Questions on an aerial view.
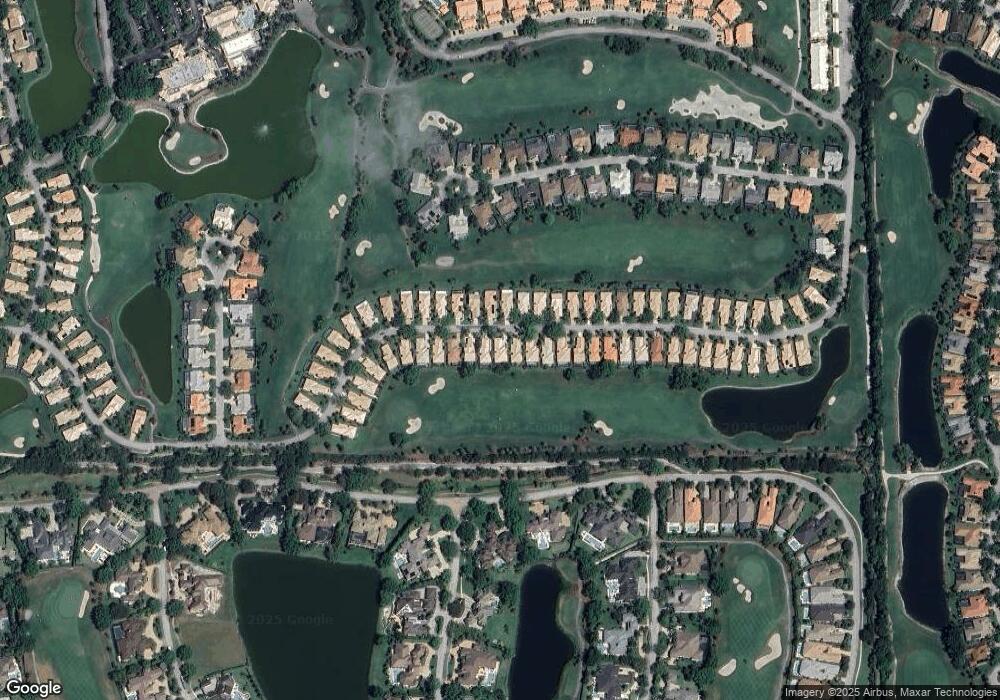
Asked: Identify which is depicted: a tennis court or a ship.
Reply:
tennis court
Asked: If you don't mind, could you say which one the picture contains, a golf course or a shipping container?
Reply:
golf course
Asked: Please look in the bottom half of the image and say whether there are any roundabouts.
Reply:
No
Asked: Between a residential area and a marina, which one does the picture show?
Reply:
residential area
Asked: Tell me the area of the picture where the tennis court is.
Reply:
top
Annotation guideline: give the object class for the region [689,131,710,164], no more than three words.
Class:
house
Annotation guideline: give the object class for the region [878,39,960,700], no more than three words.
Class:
golf course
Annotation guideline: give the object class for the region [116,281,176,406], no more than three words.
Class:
pond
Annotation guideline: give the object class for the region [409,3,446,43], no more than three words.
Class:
tennis court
